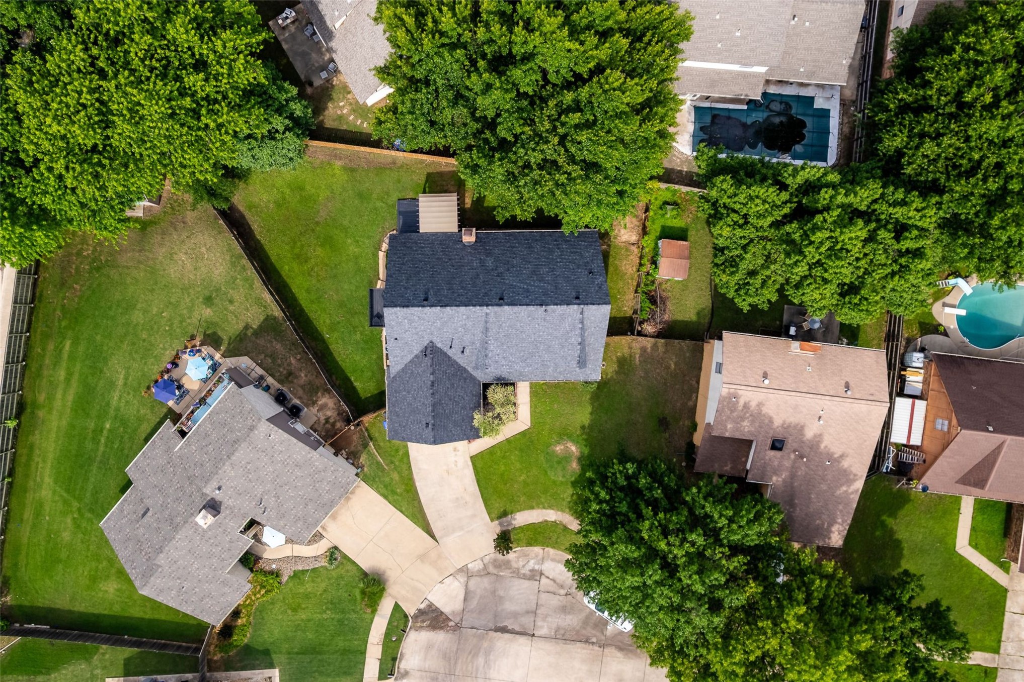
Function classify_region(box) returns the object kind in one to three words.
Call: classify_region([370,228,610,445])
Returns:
house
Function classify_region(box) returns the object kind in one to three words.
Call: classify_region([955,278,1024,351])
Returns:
swimming pool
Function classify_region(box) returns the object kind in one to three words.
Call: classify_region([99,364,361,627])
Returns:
house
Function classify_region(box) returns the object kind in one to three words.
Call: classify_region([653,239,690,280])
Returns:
shed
